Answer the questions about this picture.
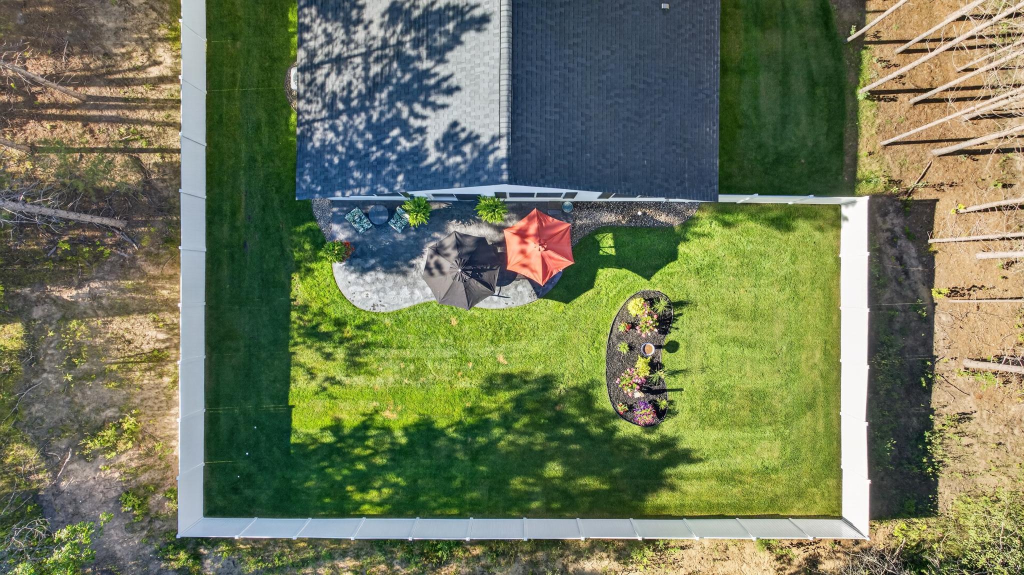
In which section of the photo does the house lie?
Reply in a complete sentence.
The house appears toward the top of the photo.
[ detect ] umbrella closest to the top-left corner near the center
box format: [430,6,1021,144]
[423,231,500,309]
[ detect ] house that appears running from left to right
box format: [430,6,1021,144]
[295,0,722,204]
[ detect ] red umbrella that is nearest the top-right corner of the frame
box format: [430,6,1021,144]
[504,208,574,286]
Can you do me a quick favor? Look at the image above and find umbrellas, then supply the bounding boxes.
[504,208,574,286]
[423,231,500,309]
